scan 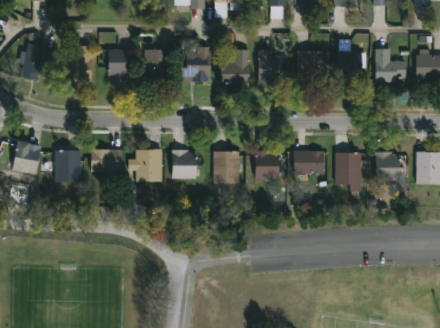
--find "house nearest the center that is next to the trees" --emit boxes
[213,150,240,184]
